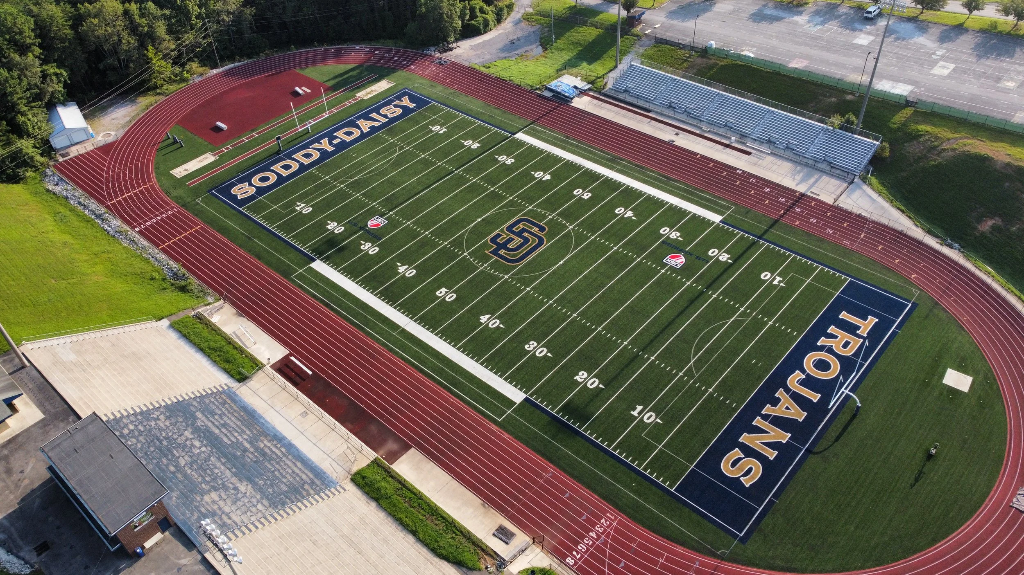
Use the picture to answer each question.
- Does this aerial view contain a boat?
No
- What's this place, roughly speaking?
sports ground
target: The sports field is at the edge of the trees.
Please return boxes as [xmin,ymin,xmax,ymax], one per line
[153,63,1009,574]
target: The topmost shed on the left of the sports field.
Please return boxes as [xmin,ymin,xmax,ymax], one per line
[40,102,92,150]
